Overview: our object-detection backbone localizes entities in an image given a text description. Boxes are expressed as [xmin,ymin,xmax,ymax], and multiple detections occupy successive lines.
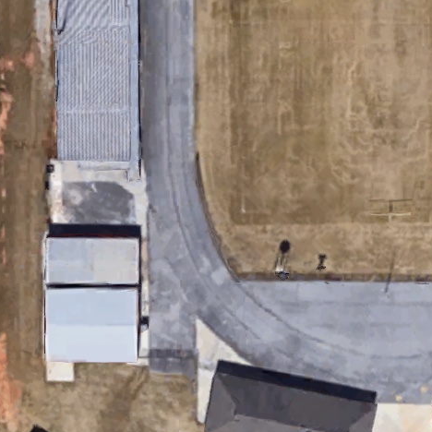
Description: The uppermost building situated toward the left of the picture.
[45,233,140,284]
